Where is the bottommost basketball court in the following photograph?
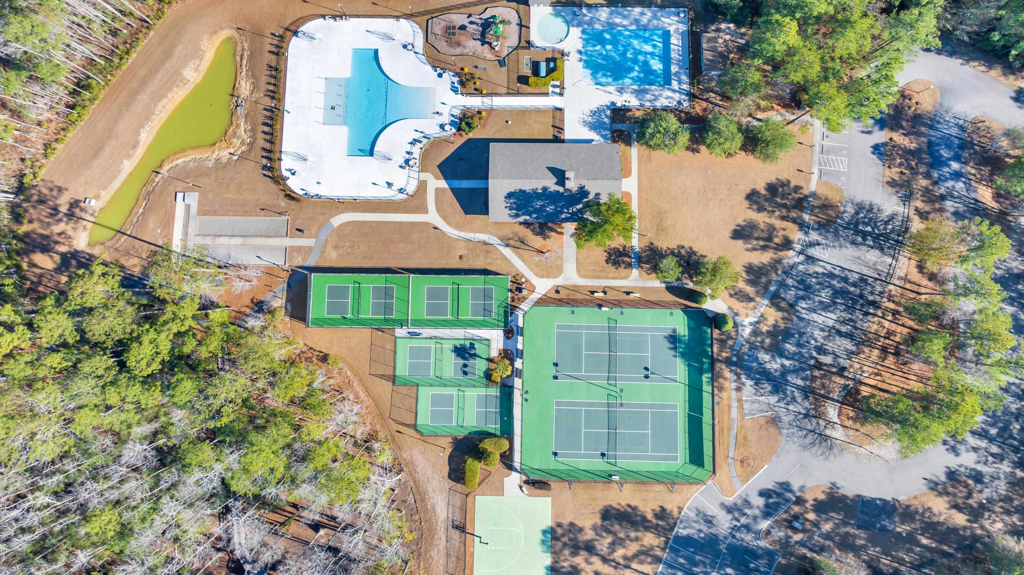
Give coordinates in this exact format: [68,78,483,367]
[474,496,551,575]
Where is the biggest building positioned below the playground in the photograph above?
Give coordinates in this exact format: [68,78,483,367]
[489,142,623,223]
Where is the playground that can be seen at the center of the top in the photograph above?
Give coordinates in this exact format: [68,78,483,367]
[426,5,522,61]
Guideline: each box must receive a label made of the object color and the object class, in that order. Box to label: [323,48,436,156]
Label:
blue swimming pool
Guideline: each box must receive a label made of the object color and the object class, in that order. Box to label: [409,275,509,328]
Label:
green sports court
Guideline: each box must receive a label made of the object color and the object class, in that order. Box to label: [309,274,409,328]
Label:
green sports court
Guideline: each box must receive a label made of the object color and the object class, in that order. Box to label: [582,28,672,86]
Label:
blue swimming pool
